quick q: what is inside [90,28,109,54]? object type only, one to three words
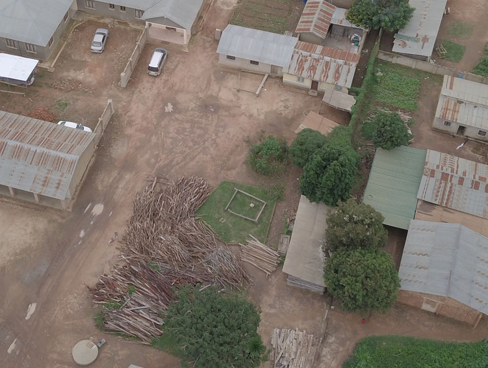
car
